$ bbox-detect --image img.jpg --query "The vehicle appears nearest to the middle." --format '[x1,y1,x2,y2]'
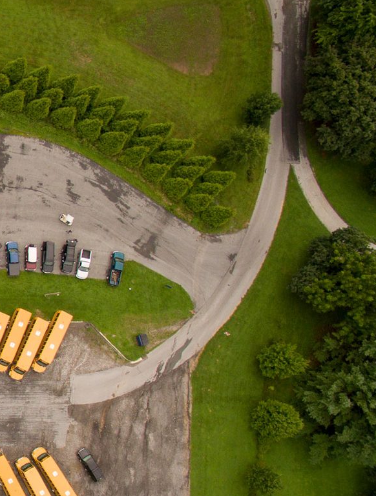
[107,251,125,287]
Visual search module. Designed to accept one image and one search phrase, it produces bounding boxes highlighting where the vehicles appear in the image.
[77,446,105,484]
[9,317,48,382]
[41,241,56,274]
[75,249,92,280]
[60,246,77,274]
[59,215,77,226]
[66,237,77,247]
[0,448,25,496]
[0,308,30,375]
[32,445,76,496]
[25,246,39,271]
[107,251,125,287]
[16,455,51,496]
[31,310,72,376]
[6,241,20,277]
